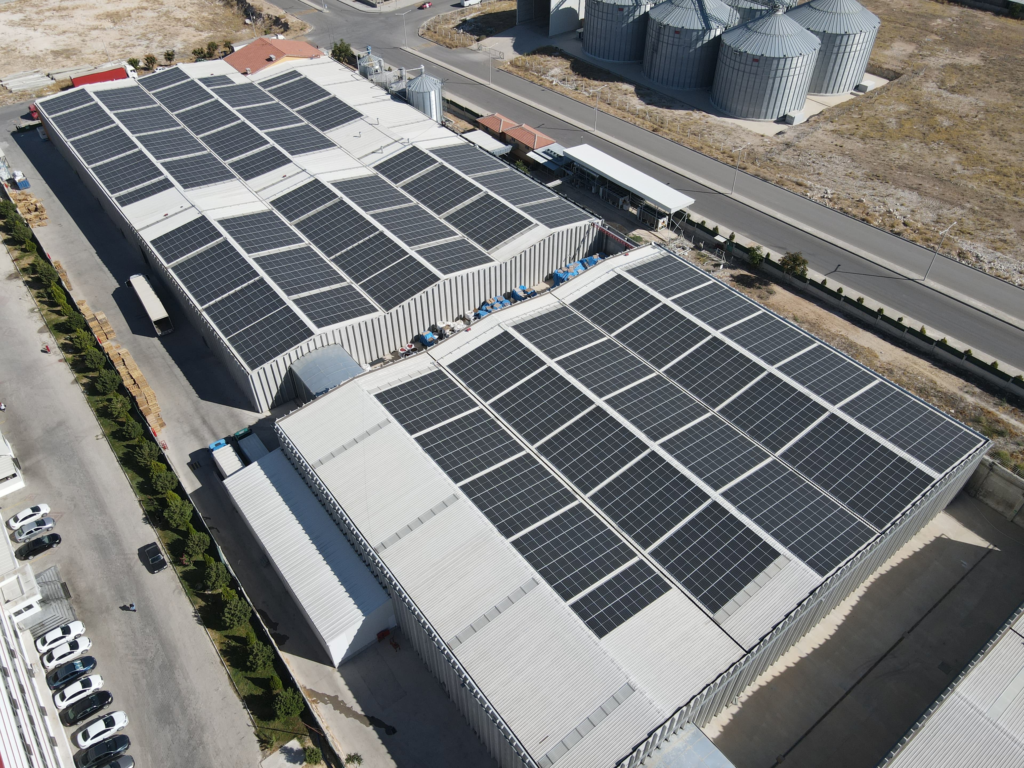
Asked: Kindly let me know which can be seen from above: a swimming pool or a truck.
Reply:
truck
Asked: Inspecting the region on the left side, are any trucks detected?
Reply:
Yes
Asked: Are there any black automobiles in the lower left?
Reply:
Yes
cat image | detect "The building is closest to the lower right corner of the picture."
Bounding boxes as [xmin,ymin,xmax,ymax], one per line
[872,596,1024,768]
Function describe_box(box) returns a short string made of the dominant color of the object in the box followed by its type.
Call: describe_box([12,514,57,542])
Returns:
gray car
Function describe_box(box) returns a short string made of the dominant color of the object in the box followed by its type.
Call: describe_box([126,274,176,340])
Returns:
white truck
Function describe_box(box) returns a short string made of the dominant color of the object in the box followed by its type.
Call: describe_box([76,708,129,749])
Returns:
white car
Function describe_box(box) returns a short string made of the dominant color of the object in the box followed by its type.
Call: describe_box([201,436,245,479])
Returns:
white truck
